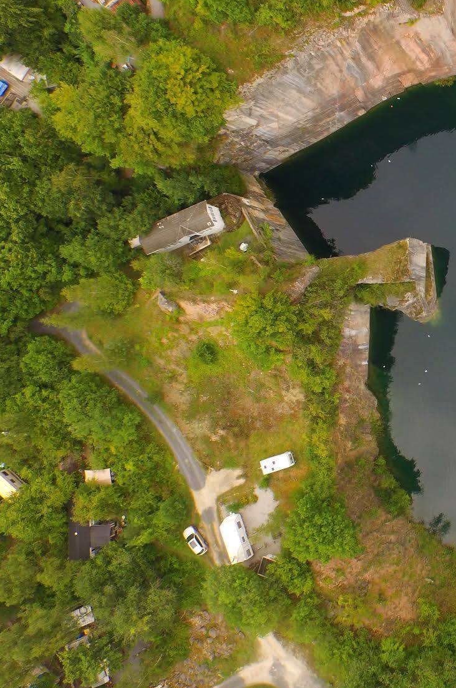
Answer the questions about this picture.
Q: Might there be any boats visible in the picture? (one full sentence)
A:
No, this view has no boat in it.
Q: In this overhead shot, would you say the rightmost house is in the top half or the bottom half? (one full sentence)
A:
You can find the rightmost house in the top half.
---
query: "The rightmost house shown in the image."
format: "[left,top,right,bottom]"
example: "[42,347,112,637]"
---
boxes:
[129,200,224,255]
